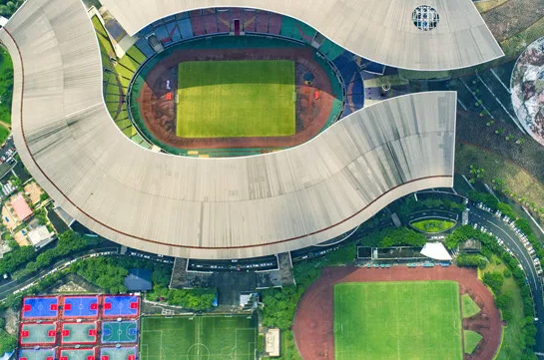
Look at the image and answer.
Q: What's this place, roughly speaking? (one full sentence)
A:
It's a sports ground.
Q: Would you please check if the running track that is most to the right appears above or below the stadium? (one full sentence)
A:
The running track that is most to the right is below the stadium.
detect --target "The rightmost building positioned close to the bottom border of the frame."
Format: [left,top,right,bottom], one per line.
[265,326,280,356]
